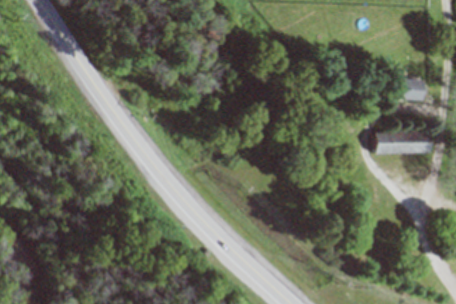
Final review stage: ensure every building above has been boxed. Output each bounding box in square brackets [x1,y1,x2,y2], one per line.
[404,76,428,101]
[376,130,434,154]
